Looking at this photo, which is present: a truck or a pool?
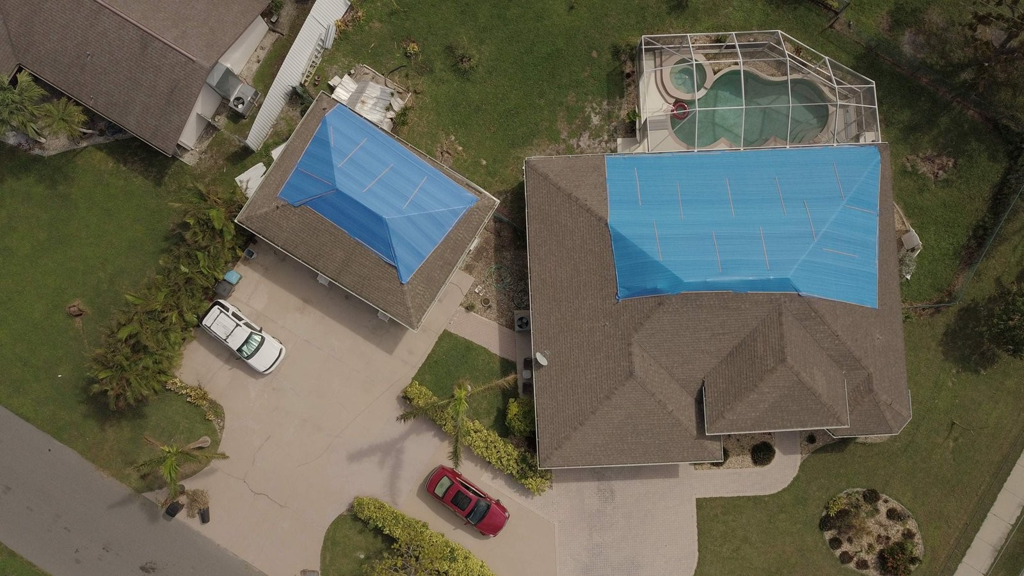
pool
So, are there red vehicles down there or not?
Yes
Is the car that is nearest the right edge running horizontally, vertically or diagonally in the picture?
diagonally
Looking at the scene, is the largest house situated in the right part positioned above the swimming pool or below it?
below it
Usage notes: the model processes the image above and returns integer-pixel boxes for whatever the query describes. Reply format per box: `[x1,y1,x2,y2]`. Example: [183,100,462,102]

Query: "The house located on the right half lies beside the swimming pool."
[522,141,914,471]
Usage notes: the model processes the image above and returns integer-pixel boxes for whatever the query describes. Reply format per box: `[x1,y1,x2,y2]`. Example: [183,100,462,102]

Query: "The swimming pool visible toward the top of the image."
[656,45,835,149]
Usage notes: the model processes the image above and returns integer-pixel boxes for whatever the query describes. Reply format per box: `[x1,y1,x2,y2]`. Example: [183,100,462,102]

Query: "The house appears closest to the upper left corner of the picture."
[0,0,270,158]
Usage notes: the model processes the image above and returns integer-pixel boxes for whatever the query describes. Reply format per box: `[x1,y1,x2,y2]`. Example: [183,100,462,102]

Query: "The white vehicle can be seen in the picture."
[199,300,288,375]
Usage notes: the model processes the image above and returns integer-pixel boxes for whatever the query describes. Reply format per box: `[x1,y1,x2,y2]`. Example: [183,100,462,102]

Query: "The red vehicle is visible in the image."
[425,465,508,535]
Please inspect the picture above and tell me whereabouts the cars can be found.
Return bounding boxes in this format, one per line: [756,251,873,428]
[425,465,508,535]
[199,300,288,375]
